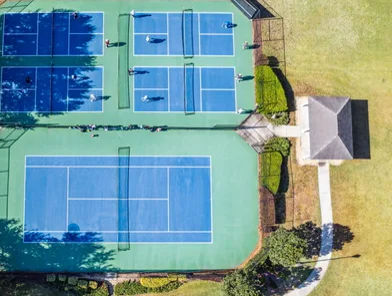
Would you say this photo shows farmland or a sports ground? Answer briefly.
sports ground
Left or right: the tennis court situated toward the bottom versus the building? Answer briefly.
left of it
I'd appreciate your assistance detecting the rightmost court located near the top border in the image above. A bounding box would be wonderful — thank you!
[133,12,235,56]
